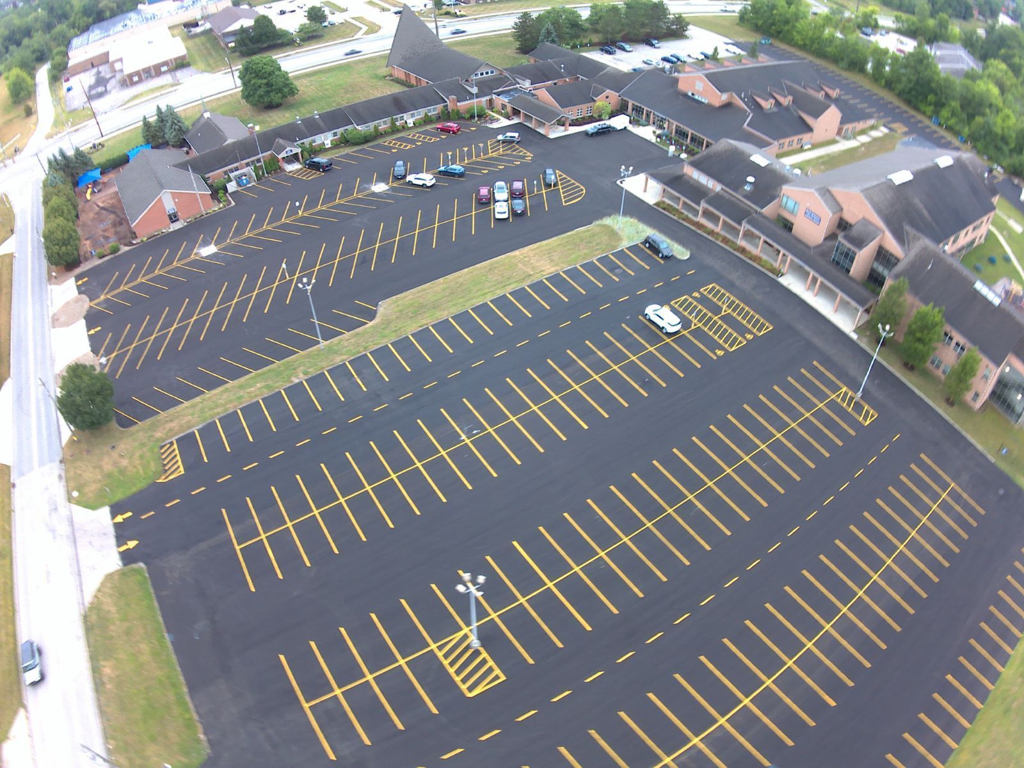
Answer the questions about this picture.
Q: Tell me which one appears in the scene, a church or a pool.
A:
church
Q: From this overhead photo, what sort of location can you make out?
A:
parking lot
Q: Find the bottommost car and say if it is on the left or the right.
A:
left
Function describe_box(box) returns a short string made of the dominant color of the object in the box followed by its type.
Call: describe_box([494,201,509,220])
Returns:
white car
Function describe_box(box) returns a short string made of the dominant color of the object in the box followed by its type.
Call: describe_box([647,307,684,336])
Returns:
white car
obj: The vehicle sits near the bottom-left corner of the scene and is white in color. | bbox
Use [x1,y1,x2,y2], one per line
[17,640,44,689]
